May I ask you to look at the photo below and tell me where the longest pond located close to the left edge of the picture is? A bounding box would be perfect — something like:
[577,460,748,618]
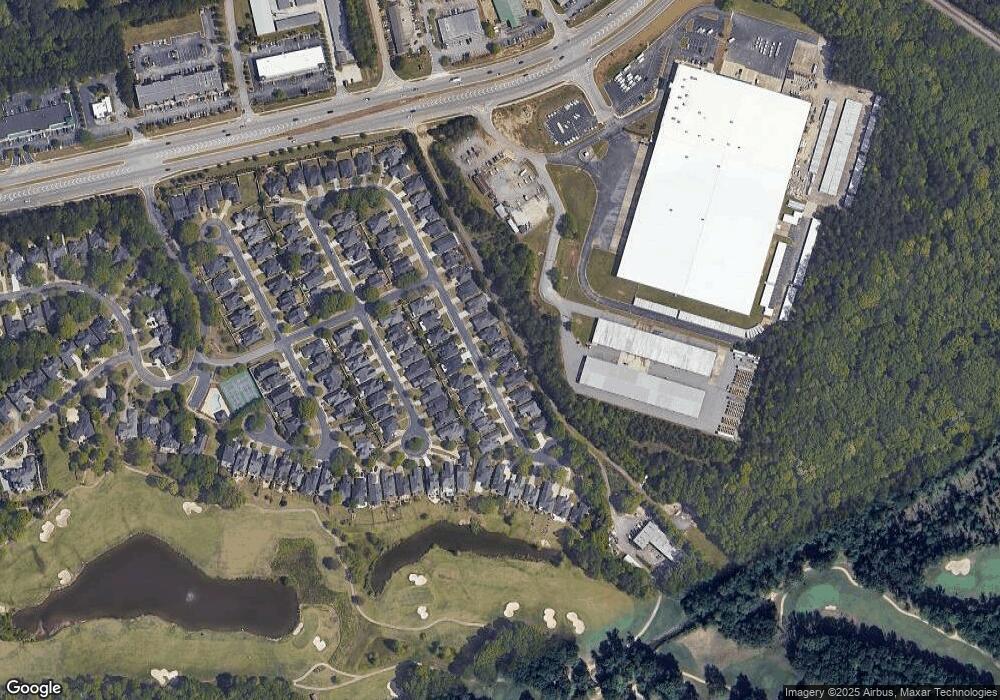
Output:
[12,533,299,639]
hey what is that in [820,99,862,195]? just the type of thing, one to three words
shed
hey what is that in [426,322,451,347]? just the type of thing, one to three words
house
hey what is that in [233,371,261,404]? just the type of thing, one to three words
tennis court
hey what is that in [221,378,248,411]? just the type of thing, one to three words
tennis court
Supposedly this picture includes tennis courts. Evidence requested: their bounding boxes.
[221,378,248,411]
[233,371,261,404]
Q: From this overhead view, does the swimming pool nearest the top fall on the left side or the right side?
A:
left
